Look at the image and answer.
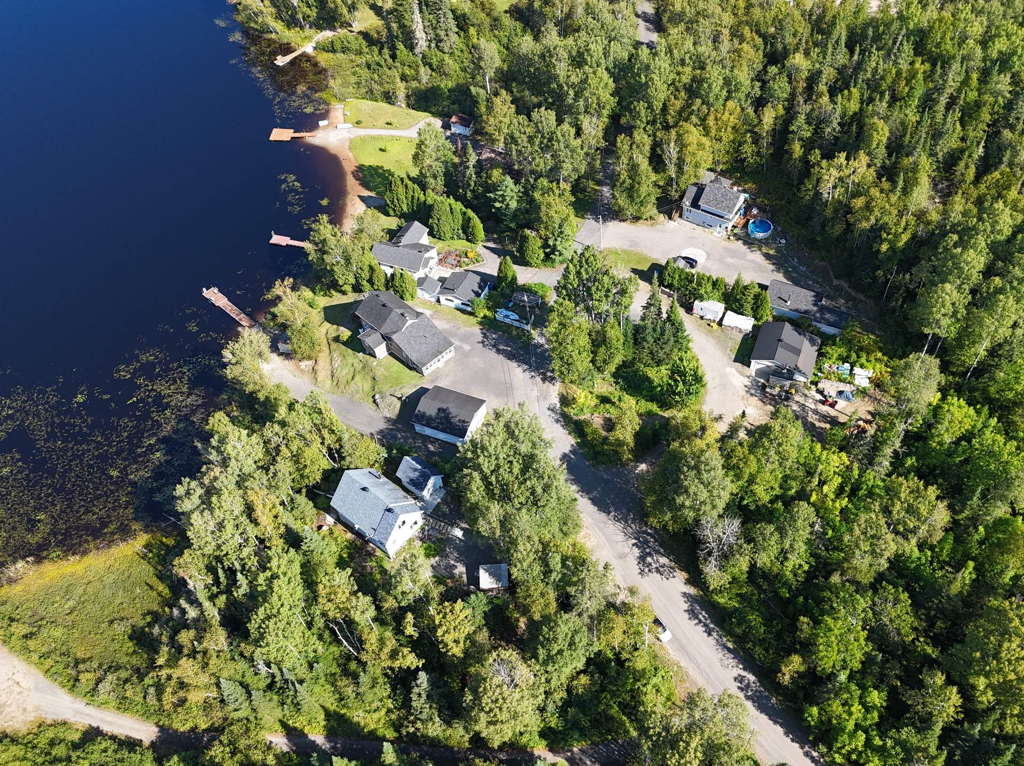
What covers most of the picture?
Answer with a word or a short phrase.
trees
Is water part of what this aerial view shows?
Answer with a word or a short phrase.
Yes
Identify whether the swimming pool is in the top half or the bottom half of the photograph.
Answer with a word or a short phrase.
top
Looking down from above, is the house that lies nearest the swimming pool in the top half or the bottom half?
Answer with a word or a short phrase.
top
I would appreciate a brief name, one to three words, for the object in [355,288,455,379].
house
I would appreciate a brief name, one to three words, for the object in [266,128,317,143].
pier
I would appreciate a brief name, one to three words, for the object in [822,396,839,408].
vehicle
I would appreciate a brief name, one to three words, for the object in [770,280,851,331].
building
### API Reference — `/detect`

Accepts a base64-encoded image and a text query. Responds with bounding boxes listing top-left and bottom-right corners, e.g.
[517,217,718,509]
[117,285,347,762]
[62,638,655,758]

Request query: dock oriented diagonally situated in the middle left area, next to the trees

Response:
[199,285,260,330]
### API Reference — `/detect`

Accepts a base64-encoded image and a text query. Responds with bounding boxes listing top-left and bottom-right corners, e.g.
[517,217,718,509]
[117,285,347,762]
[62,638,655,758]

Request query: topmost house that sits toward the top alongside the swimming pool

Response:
[683,183,747,237]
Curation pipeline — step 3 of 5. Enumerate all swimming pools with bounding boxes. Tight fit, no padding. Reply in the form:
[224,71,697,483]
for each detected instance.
[747,216,773,238]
